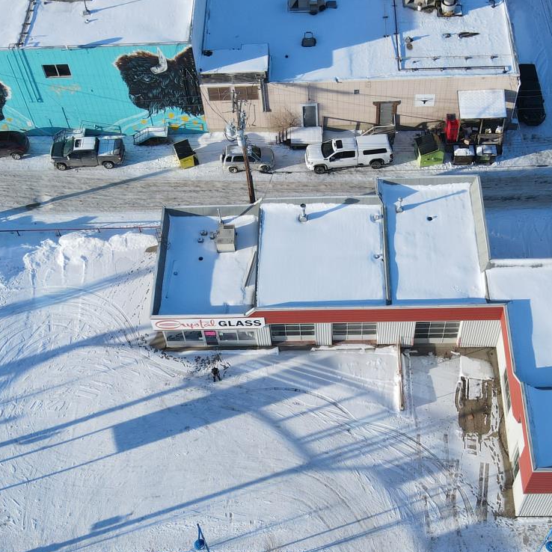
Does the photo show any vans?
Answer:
Yes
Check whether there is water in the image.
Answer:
No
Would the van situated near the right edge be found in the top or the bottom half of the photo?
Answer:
top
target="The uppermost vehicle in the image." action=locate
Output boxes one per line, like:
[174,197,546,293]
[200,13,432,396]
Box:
[513,58,551,120]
